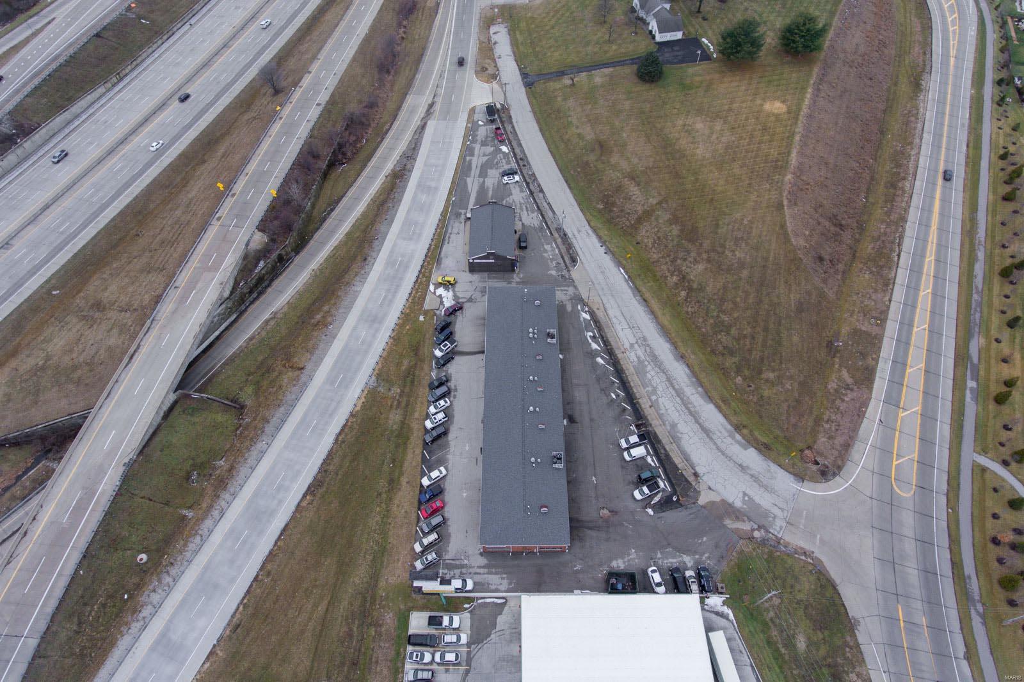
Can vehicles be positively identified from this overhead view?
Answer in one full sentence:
Yes, there's a vehicle here.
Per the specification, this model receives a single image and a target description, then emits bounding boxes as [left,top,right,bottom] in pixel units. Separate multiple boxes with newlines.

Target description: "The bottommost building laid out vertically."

[479,284,570,552]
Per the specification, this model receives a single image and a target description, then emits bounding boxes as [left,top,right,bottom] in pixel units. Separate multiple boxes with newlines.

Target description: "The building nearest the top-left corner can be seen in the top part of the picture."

[468,203,516,272]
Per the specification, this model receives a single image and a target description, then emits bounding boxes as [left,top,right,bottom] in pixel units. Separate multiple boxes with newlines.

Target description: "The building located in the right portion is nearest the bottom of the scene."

[521,595,712,682]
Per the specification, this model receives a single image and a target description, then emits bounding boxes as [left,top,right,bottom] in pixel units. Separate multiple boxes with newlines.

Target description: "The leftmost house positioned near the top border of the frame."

[621,0,685,41]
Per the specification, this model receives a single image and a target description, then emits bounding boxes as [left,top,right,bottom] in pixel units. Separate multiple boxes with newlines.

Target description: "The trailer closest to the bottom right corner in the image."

[705,630,741,682]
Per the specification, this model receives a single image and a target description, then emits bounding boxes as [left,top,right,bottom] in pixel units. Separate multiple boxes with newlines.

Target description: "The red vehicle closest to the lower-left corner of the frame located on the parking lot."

[420,499,446,518]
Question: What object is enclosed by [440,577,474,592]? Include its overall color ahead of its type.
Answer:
white vehicle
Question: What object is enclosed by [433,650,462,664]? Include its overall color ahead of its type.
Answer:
white car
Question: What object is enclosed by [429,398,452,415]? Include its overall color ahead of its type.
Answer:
white car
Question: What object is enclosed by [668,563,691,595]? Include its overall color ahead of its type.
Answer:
black truck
